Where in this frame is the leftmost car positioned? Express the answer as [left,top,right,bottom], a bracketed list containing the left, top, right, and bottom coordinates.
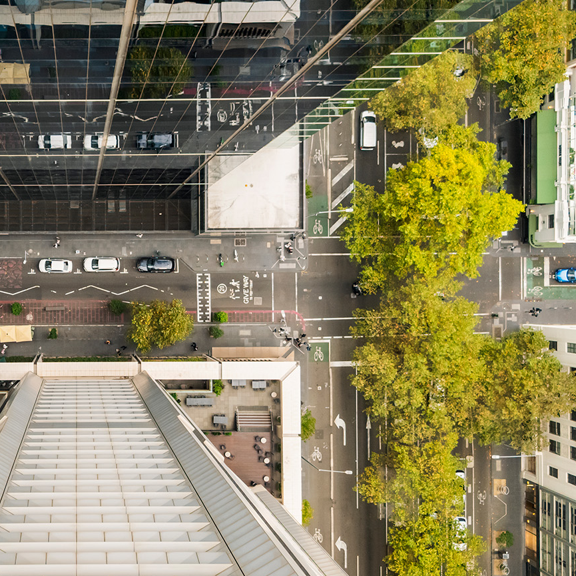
[38,257,73,274]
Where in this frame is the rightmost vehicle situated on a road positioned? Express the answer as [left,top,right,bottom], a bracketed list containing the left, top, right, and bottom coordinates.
[553,266,576,285]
